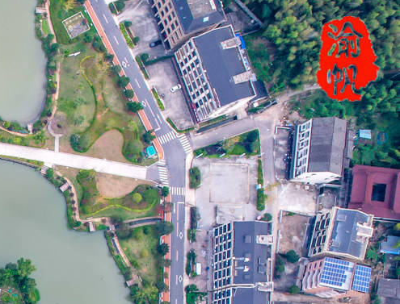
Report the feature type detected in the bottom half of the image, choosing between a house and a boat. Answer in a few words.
house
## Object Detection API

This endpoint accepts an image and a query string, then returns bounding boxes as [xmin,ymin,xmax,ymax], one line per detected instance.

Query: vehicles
[149,38,162,47]
[169,83,181,92]
[196,261,204,276]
